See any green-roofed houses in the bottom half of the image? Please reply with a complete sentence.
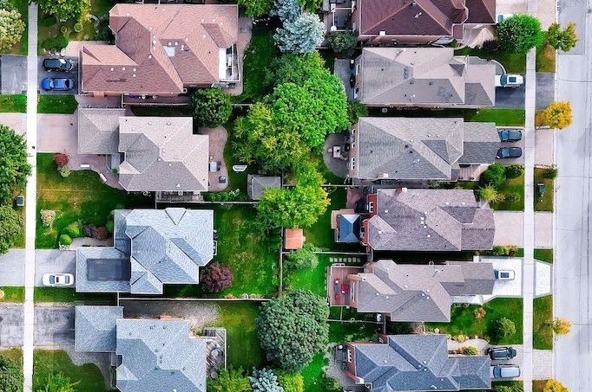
No, there's no green-roofed house to be seen in the bottom half of the image.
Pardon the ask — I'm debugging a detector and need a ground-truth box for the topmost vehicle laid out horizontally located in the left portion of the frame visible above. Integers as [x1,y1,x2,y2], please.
[41,57,74,73]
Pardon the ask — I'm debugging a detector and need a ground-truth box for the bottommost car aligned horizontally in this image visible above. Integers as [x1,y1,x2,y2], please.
[491,364,522,379]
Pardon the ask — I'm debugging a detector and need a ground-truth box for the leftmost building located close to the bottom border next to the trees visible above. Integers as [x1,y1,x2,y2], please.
[75,306,207,392]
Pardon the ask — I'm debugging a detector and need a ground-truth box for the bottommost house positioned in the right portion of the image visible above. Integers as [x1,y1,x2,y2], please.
[347,334,491,392]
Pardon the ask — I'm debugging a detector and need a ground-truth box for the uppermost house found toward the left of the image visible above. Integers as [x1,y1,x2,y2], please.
[81,3,241,96]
